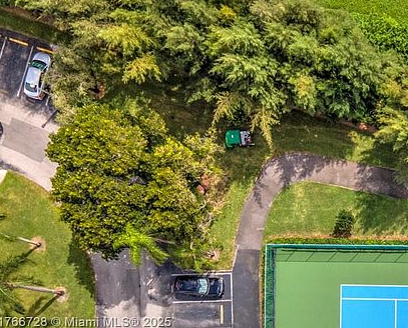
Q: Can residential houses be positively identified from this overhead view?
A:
No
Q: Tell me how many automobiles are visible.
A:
2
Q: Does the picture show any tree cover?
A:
Yes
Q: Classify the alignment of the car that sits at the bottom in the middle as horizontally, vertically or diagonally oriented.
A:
horizontally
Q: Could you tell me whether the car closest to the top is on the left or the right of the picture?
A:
left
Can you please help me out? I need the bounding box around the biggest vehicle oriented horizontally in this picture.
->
[174,276,225,299]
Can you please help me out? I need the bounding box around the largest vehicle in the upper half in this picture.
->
[22,51,55,102]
